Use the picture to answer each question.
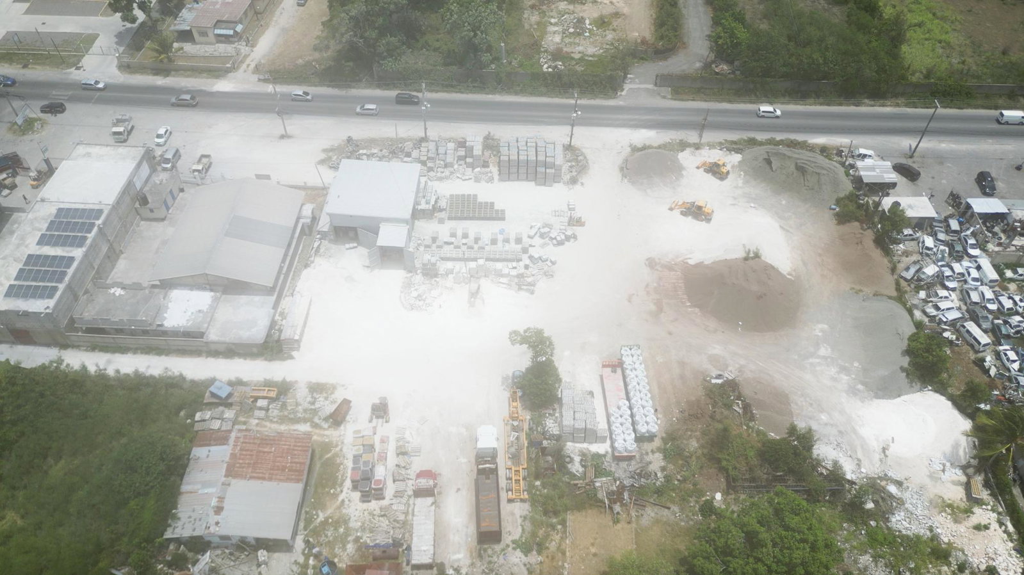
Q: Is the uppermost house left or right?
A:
left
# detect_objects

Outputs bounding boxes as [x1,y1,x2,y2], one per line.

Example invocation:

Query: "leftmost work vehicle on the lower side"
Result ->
[368,389,392,434]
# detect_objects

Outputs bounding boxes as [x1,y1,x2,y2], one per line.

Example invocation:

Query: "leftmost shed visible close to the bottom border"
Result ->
[162,429,315,547]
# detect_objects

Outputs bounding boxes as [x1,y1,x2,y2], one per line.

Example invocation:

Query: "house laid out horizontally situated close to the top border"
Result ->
[170,0,255,41]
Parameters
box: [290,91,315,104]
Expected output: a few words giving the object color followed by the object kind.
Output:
gray vehicle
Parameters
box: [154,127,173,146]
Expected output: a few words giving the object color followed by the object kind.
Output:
white car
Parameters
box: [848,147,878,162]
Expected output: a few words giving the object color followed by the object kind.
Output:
white car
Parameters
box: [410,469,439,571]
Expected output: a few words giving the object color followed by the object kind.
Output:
white truck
